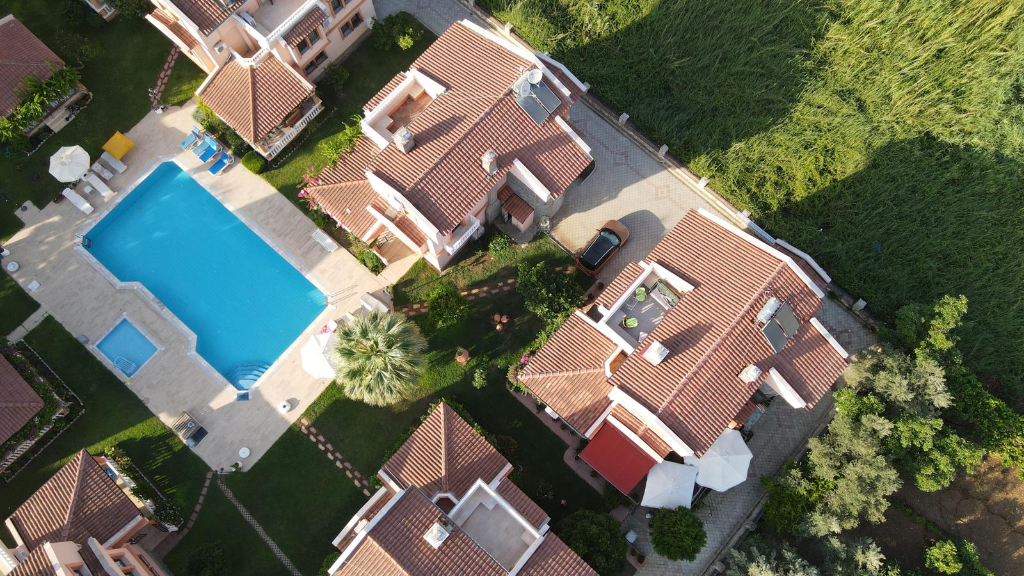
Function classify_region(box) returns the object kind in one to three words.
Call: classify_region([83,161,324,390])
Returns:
swimming pool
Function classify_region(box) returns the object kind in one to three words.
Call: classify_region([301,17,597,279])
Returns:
house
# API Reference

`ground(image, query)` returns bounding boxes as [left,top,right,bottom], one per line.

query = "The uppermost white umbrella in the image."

[51,147,94,186]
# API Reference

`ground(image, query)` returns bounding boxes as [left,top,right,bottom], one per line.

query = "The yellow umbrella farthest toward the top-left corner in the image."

[103,132,143,165]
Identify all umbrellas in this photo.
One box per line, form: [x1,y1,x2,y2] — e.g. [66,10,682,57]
[51,147,94,186]
[301,332,348,378]
[681,424,758,498]
[103,132,143,165]
[642,467,694,510]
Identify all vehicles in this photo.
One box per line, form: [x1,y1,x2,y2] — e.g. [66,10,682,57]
[571,217,636,275]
